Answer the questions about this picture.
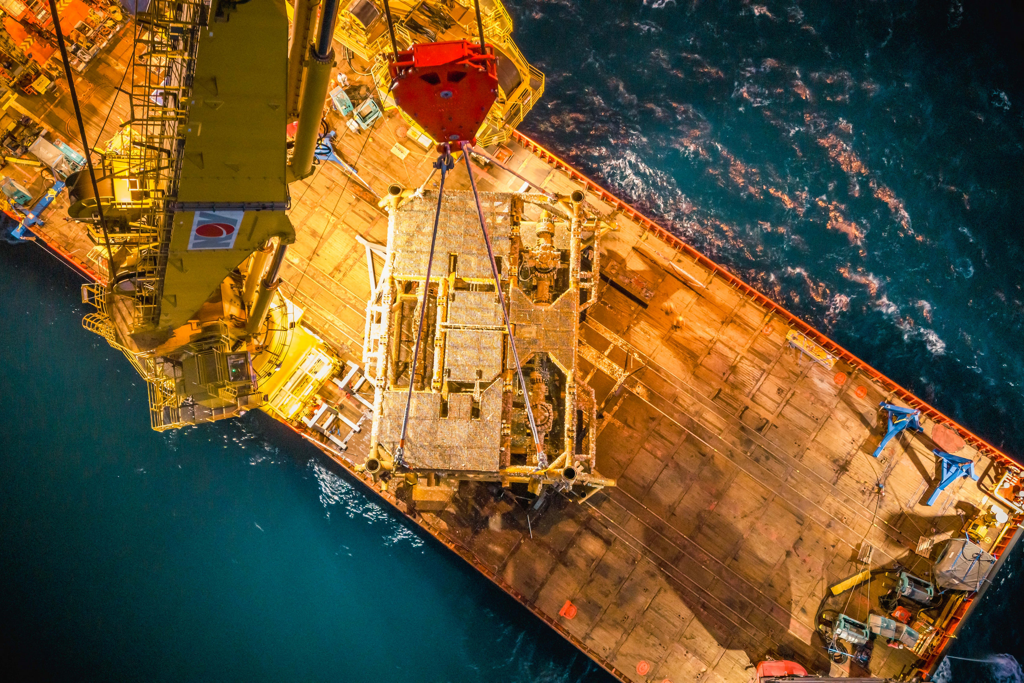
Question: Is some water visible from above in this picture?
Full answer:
Yes, water can be seen from above here.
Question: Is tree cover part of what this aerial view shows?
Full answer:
No, there's no tree cover in this view.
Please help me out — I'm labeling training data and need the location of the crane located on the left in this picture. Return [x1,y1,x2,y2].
[52,0,342,432]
